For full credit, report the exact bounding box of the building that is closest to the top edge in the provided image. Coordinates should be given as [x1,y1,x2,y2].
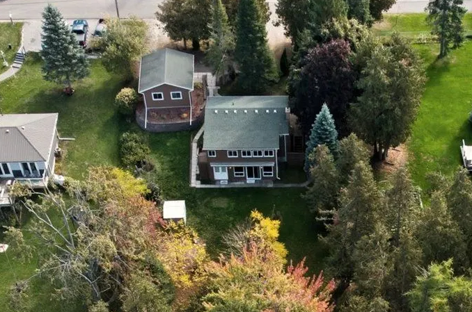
[138,43,197,114]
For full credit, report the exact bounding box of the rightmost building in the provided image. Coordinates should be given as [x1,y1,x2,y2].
[202,83,297,187]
